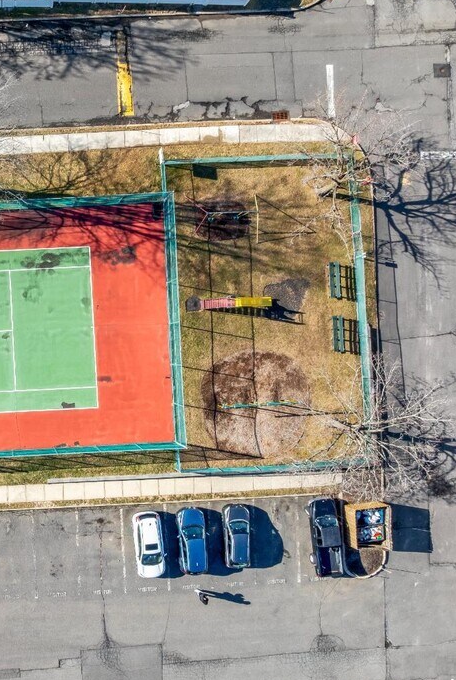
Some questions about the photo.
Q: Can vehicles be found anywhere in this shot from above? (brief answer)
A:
Yes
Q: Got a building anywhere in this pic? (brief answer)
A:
Yes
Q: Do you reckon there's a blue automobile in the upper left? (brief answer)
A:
No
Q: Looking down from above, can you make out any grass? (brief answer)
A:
Yes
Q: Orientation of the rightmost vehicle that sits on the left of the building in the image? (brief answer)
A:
up and down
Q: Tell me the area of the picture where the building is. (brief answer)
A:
bottom right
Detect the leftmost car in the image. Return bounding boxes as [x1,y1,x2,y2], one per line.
[132,511,167,577]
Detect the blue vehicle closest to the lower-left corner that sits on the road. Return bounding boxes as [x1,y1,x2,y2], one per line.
[175,507,209,576]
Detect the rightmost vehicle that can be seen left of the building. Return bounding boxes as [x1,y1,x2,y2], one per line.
[307,497,348,578]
